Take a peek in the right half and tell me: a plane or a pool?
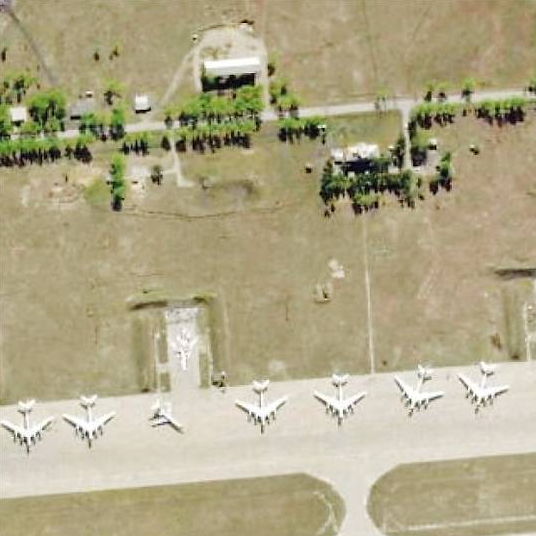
plane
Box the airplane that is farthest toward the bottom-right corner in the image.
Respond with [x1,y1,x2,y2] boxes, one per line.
[459,361,510,411]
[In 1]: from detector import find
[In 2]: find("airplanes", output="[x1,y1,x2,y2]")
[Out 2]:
[235,381,287,431]
[459,361,510,411]
[150,397,182,428]
[314,373,366,422]
[62,395,115,444]
[1,400,53,450]
[395,365,445,413]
